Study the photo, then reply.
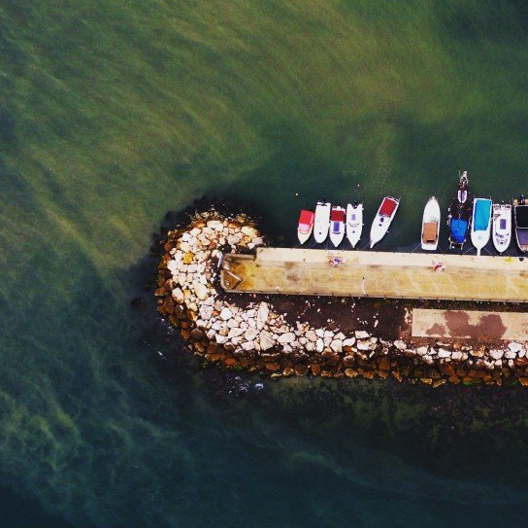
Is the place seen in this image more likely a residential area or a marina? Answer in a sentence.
It's a marina.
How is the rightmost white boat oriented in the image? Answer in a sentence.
The rightmost white boat is laid out from top to bottom.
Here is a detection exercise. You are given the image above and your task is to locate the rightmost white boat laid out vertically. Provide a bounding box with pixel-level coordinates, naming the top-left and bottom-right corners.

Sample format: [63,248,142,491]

[492,202,512,255]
